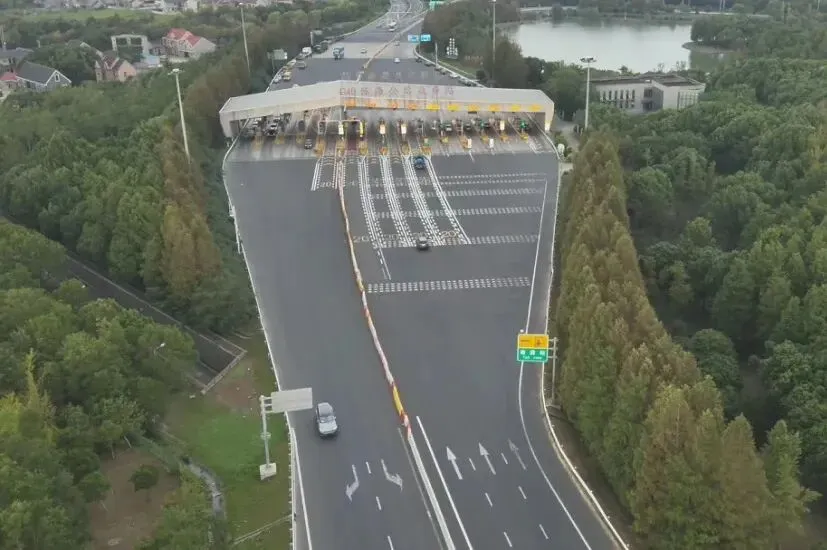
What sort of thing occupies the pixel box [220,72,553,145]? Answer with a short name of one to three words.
toll station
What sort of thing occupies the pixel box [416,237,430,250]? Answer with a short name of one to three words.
vehicle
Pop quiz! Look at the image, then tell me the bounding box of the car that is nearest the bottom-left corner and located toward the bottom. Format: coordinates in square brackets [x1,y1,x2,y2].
[316,404,338,438]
